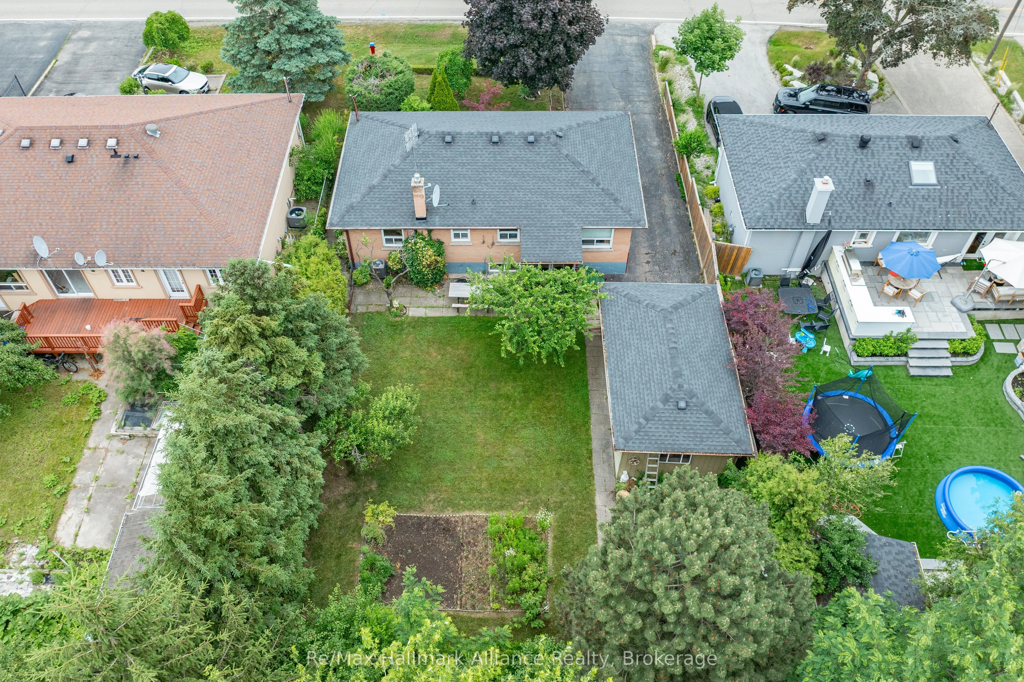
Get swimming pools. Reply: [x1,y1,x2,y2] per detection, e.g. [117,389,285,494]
[931,465,1024,544]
